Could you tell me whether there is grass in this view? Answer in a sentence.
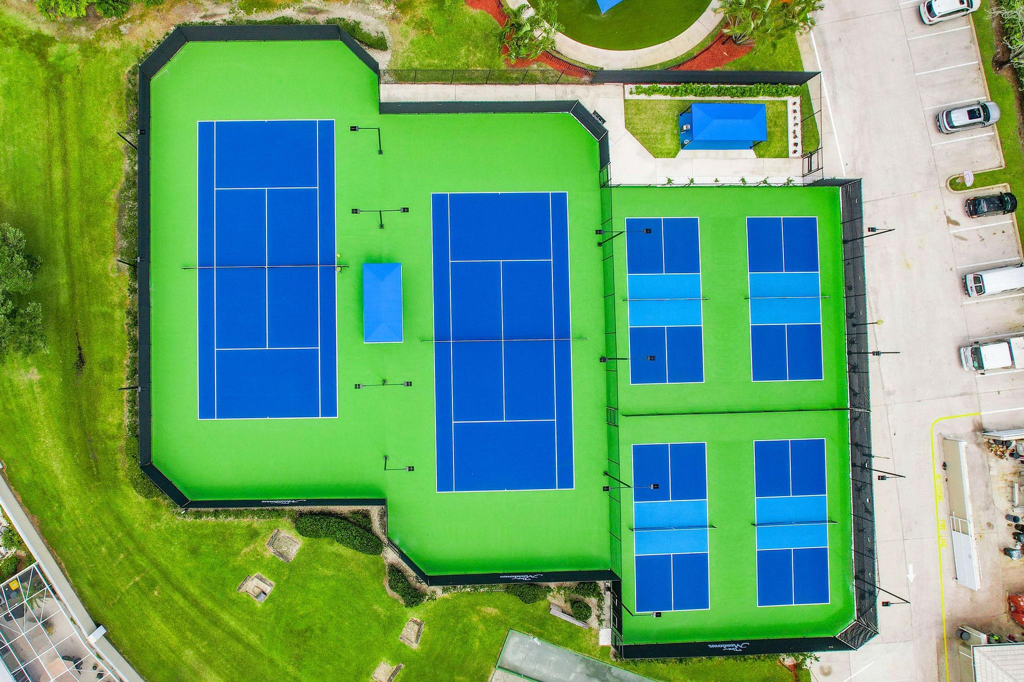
Yes, there is grass in the image.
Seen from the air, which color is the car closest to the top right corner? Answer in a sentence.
From above, the car closest to the top right corner appears white.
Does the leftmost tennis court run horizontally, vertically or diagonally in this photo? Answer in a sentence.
In this picture, the leftmost tennis court lies vertically.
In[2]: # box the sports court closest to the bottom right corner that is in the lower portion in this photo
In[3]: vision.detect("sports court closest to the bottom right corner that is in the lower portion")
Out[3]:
[753,438,831,607]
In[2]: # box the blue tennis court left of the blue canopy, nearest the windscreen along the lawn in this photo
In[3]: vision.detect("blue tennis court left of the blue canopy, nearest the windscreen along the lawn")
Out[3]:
[196,119,338,421]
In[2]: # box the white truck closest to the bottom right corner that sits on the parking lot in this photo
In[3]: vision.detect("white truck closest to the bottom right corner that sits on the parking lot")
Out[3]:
[958,334,1024,375]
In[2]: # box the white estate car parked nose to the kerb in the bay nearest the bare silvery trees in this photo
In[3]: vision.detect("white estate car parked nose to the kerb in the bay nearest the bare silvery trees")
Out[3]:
[920,0,979,27]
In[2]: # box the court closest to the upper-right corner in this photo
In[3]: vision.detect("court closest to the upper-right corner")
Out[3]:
[746,216,824,382]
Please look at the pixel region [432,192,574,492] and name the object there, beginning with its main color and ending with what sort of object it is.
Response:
blue tennis court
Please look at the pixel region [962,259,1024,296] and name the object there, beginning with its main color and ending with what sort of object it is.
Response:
white van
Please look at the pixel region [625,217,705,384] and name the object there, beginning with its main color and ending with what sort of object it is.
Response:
blue sports court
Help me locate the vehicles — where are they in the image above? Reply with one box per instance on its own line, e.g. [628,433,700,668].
[935,100,997,134]
[962,259,1024,296]
[965,186,1017,216]
[920,0,979,27]
[958,334,1024,375]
